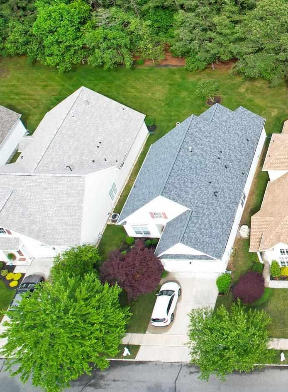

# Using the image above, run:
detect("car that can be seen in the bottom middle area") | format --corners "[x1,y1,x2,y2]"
[150,283,182,327]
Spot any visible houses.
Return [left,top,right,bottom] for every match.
[246,120,288,271]
[114,102,270,274]
[0,85,153,267]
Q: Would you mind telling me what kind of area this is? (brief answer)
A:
residential area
